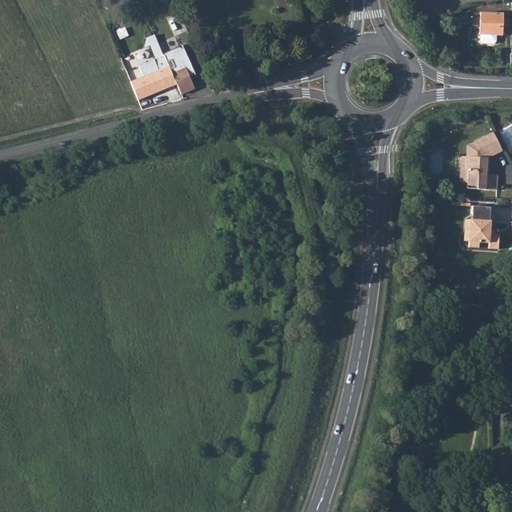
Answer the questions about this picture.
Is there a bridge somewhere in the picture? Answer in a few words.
No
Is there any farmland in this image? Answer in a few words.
Yes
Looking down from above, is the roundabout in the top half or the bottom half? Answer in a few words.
top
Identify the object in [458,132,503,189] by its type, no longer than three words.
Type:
house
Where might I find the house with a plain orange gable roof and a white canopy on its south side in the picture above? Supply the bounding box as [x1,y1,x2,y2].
[480,11,504,45]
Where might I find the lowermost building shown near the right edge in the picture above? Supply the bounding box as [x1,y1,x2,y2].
[464,206,500,251]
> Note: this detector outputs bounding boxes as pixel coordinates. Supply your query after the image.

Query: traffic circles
[246,0,512,188]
